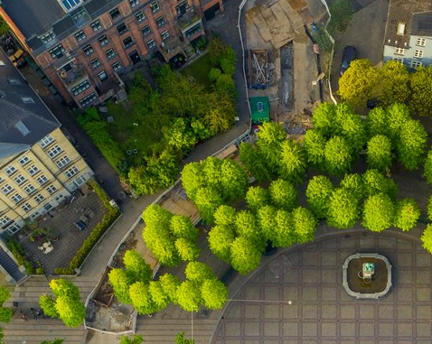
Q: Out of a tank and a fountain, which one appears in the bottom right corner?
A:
fountain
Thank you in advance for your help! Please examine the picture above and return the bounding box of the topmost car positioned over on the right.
[338,44,355,74]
